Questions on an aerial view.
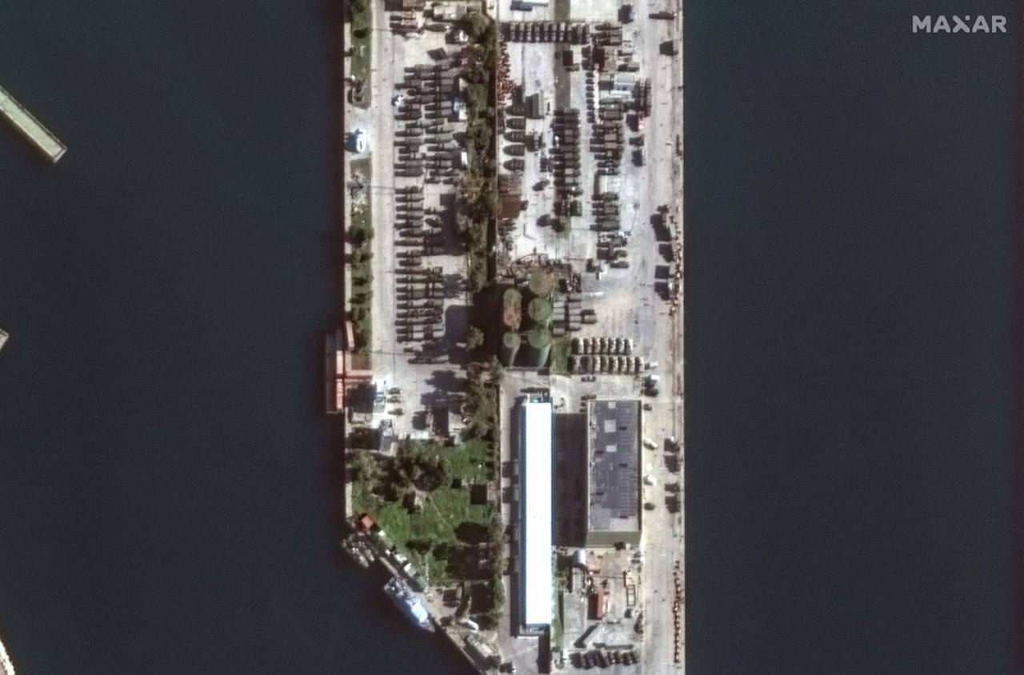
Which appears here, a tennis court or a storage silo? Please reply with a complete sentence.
I can see a storage silo in this picture.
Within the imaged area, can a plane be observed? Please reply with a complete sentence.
No, the frame has no plane in it.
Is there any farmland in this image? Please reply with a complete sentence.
No, there's no farmland in this view.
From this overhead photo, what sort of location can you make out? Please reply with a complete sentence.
This image shows a port.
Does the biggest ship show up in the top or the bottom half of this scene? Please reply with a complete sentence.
The bottom half of the photo is where the biggest ship is.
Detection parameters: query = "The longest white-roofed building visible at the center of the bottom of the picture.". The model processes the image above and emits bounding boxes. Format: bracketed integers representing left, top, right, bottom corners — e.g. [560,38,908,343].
[518,393,554,635]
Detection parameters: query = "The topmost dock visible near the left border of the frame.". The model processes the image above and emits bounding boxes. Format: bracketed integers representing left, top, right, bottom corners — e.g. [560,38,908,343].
[0,86,67,166]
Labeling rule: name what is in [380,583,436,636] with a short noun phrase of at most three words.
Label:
ship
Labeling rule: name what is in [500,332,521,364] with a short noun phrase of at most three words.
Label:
silo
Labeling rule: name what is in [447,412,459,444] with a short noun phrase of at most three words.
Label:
shed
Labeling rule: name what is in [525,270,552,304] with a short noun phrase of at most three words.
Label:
silo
